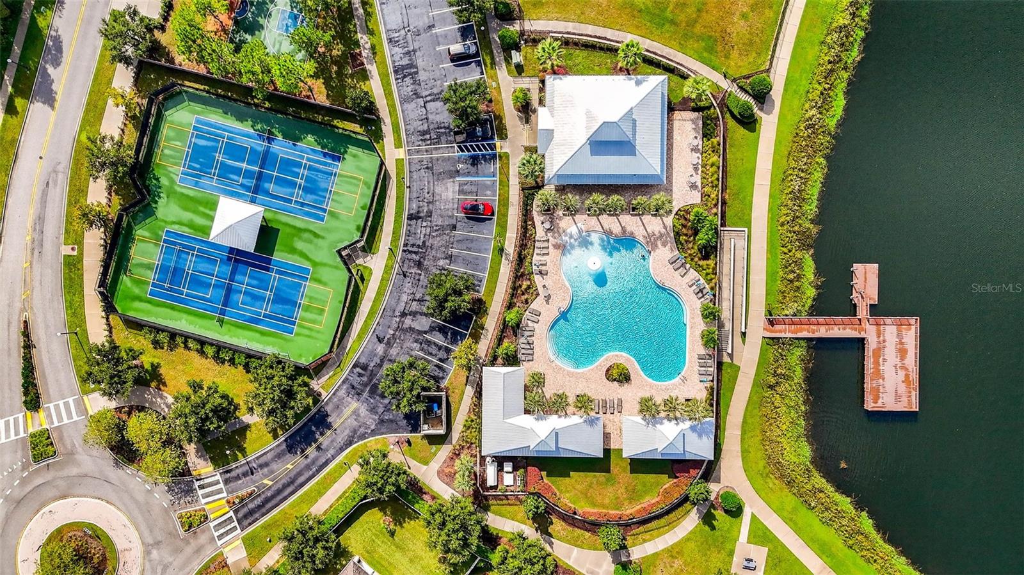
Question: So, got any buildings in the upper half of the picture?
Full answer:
Yes, a building can be seen in the upper half of the picture.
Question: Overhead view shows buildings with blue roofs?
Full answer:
No, I find no building with a blue roof anywhere in the image.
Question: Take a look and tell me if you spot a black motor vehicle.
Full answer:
Yes, the frame does contain a black motor vehicle.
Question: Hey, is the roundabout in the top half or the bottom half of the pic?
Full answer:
The roundabout sits in the bottom half of the picture.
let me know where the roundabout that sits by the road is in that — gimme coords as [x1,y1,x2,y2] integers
[14,495,145,575]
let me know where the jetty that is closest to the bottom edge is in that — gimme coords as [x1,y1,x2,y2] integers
[763,317,920,409]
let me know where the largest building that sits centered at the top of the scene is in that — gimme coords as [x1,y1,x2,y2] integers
[538,75,667,185]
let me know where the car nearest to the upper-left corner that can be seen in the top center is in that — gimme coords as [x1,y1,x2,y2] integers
[447,43,478,61]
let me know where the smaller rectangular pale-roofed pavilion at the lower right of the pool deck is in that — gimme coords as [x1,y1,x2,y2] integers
[623,416,714,460]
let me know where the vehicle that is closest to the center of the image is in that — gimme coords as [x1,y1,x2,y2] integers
[462,202,493,216]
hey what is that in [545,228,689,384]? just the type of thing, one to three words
swimming pool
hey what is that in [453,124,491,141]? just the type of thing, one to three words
vehicle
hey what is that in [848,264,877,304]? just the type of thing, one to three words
pier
